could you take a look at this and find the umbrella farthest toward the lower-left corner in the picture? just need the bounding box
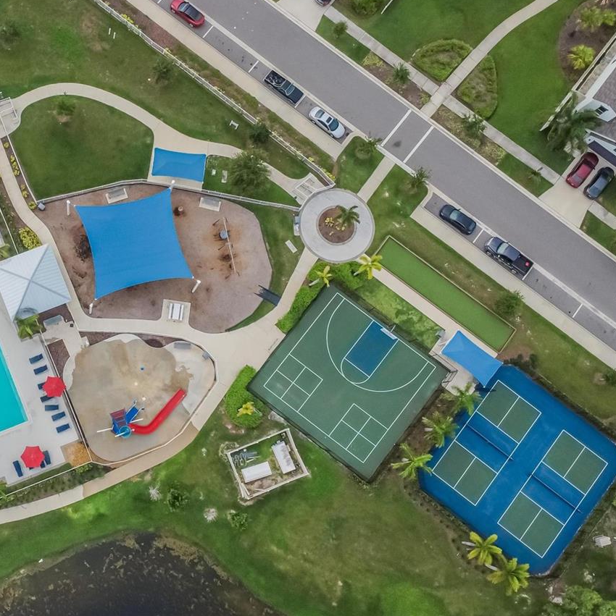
[20,444,45,470]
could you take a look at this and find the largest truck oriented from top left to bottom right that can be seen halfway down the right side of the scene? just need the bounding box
[484,236,537,277]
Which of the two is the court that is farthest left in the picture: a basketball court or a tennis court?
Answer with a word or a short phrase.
basketball court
